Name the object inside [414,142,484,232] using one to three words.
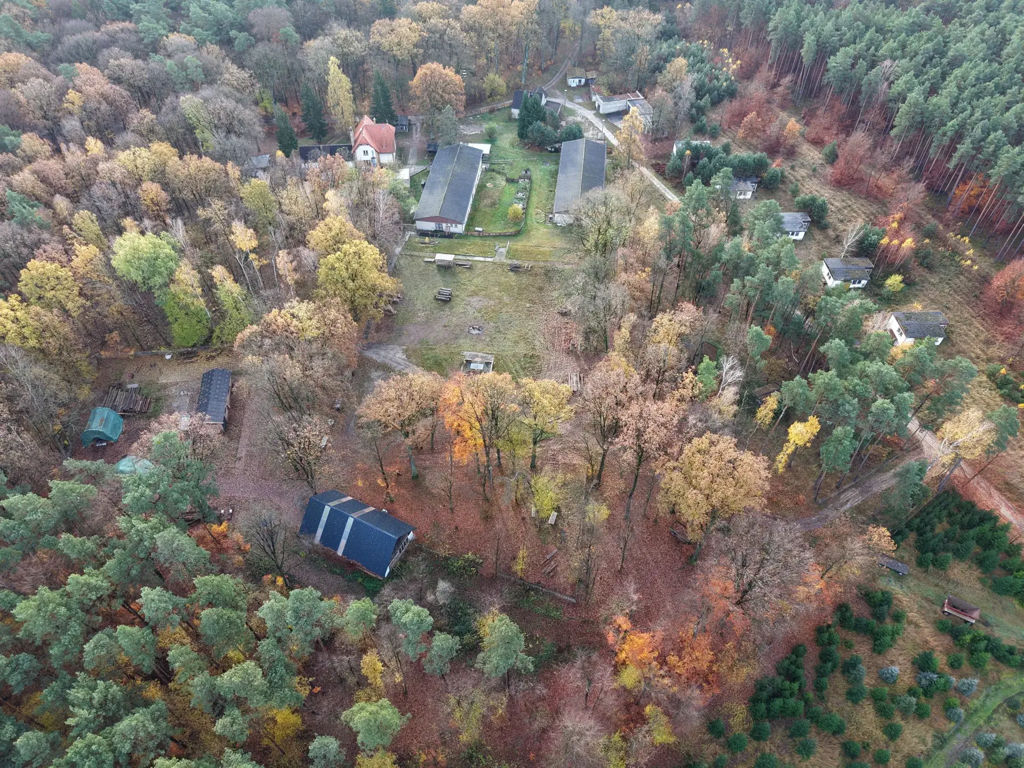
barn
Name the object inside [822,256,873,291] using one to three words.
building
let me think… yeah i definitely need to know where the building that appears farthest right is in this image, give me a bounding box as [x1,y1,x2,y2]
[892,311,947,345]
